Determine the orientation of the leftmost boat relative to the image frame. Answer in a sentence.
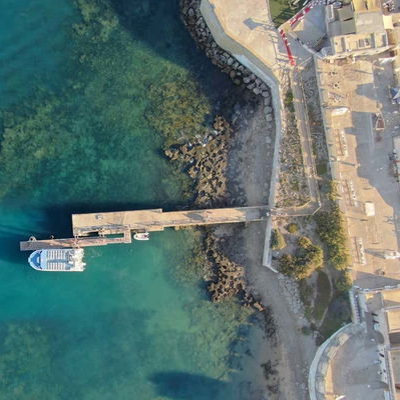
In this picture, the leftmost boat is oriented from side to side.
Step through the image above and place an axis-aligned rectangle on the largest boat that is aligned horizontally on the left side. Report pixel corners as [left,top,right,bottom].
[29,248,86,272]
